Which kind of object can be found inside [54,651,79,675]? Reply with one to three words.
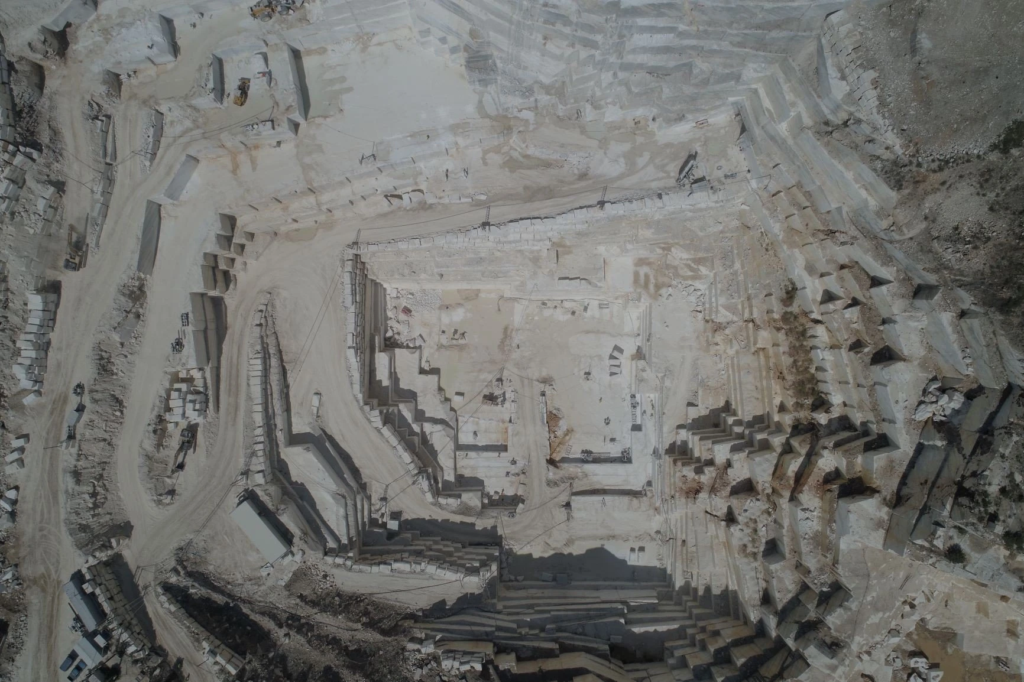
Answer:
car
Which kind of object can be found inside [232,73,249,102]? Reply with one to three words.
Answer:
work vehicle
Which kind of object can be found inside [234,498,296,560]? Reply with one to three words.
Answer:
building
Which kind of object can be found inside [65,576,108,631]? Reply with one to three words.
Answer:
shed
